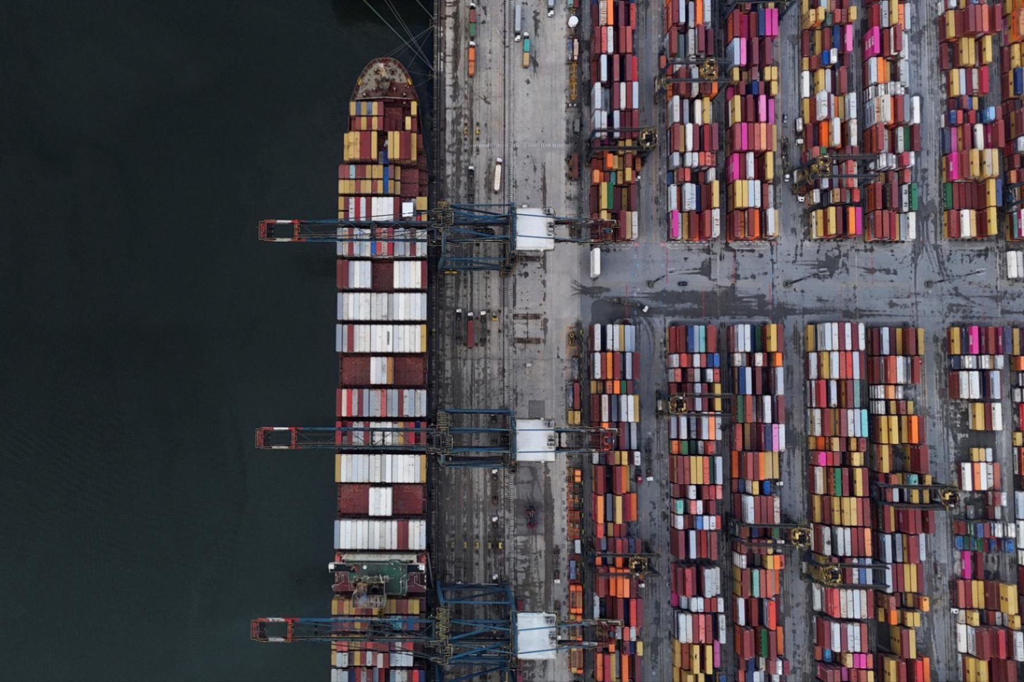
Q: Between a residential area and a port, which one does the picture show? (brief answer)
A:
port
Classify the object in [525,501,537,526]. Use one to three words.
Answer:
vehicle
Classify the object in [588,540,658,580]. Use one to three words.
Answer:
container crane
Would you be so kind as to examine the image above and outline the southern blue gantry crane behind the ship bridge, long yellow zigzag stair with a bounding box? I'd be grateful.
[250,560,624,672]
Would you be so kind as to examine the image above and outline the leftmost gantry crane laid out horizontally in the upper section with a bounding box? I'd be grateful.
[257,198,620,284]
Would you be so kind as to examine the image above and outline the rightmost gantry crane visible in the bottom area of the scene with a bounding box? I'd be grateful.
[867,476,957,511]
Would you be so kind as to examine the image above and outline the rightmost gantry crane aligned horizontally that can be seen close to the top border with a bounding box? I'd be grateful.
[722,0,799,28]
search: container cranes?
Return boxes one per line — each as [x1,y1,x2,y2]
[867,476,957,511]
[660,391,735,420]
[588,540,658,580]
[250,560,624,672]
[253,397,622,474]
[722,0,799,28]
[257,198,620,284]
[729,513,808,550]
[804,551,888,592]
[658,59,731,102]
[587,127,656,166]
